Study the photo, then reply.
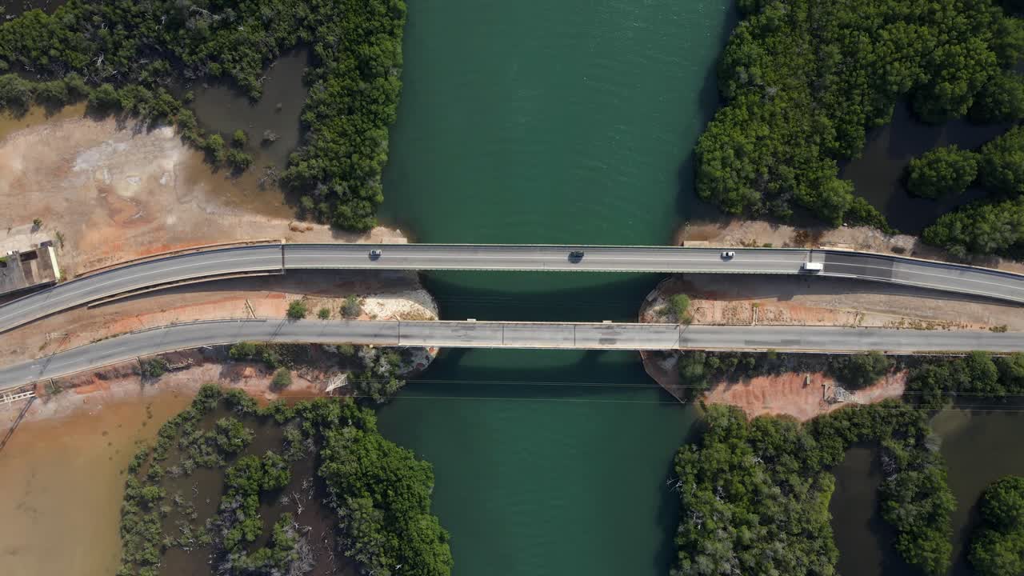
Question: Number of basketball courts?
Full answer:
Not a single basketball court can be seen.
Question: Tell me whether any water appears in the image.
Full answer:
Yes, water shows up in the scene.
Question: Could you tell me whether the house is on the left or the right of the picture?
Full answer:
It is on the left.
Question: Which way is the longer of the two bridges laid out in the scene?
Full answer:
Seen from above, the longer of the two bridges lies horizontally.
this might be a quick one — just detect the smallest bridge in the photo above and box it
[399,319,680,350]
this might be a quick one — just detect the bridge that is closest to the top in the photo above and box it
[283,238,814,277]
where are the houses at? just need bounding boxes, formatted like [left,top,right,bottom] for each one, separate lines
[0,241,59,296]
